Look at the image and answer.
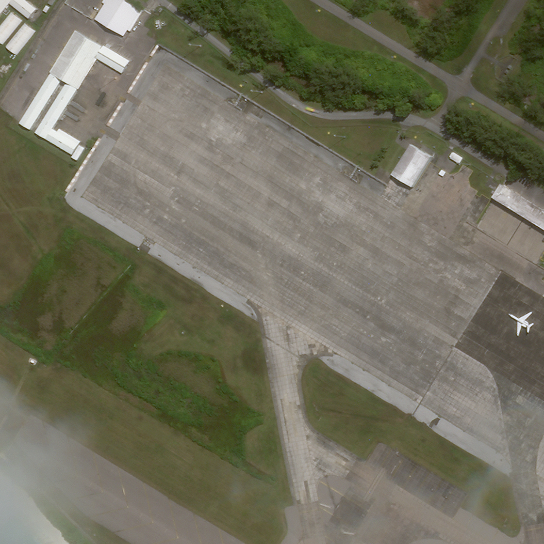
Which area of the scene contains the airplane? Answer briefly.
right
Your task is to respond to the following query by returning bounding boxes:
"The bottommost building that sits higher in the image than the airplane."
[491,184,544,230]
